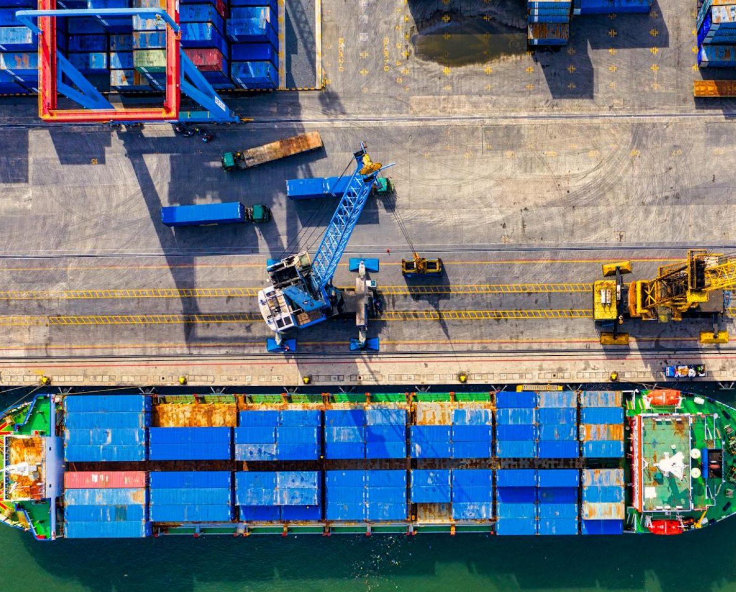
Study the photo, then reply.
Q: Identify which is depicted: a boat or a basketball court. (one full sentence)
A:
The image shows a boat.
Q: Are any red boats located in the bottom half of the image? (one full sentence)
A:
Yes, you'll find a red boat in the bottom half of the image.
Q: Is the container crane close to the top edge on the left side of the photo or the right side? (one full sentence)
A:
It is on the left.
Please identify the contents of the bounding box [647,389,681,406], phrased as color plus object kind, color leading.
orange boat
